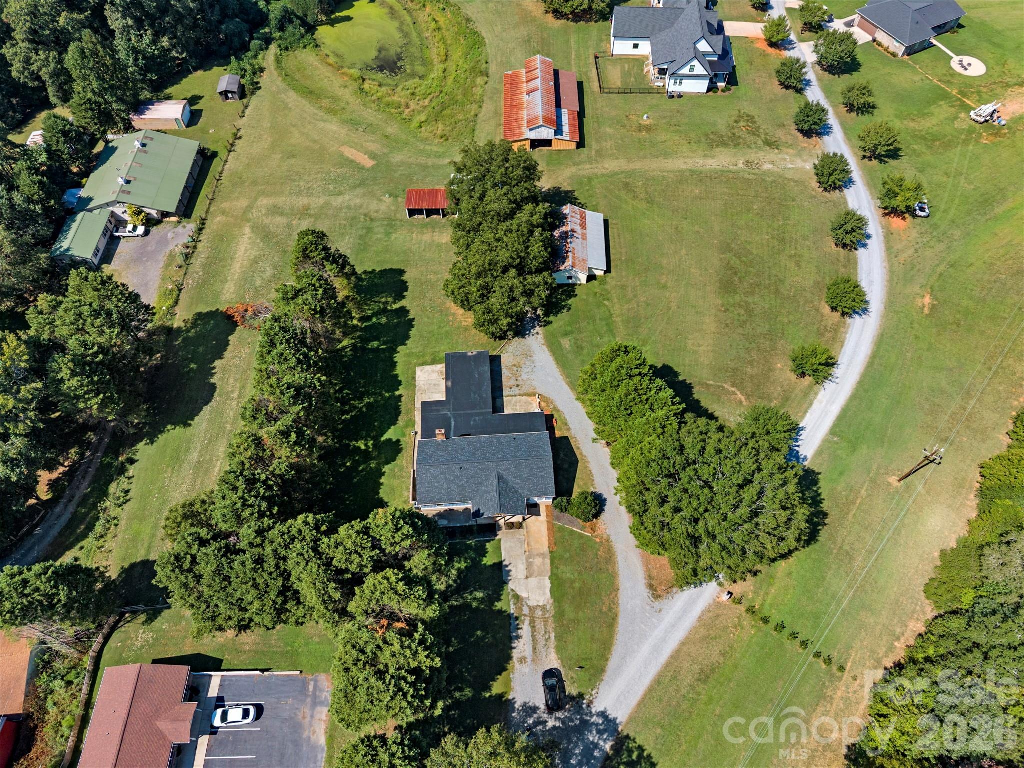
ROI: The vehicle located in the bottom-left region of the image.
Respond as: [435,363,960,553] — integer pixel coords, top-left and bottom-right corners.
[212,705,257,728]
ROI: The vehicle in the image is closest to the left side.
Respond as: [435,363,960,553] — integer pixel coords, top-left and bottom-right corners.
[111,224,148,239]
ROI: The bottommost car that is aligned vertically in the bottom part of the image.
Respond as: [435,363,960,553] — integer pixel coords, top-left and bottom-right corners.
[543,668,563,713]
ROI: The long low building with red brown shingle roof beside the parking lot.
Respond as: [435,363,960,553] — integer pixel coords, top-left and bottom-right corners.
[77,663,205,768]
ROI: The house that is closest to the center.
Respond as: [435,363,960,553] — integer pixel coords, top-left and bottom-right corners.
[414,350,555,525]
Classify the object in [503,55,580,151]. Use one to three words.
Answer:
barn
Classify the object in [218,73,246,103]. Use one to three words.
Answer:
shed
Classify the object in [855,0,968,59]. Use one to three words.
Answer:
house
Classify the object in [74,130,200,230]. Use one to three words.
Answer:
barn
